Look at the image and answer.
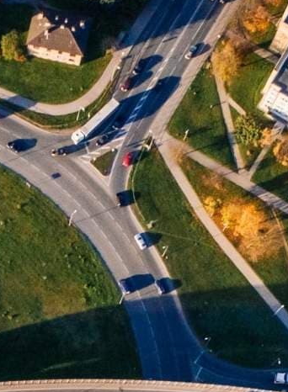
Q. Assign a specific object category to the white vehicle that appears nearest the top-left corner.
truck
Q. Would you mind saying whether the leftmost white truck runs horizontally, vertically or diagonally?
diagonally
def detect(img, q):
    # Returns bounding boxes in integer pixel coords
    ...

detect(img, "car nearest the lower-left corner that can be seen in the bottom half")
[119,277,132,294]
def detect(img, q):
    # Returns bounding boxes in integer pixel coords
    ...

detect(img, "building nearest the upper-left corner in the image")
[26,11,94,64]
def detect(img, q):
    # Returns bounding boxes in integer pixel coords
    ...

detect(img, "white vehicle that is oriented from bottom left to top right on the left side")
[69,95,125,146]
